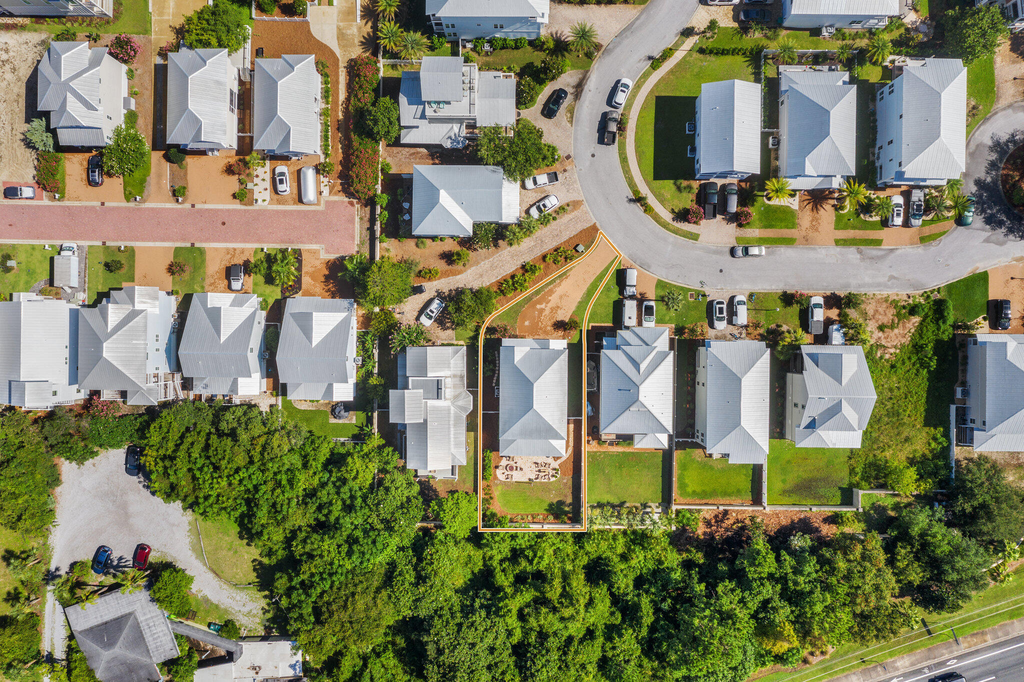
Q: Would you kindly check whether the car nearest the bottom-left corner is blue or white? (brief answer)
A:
blue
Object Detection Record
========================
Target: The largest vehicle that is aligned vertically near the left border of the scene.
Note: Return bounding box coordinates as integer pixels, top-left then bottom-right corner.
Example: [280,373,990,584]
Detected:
[50,234,78,298]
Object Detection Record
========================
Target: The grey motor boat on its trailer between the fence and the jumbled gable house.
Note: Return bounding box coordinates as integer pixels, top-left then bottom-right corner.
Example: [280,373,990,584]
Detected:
[584,356,600,396]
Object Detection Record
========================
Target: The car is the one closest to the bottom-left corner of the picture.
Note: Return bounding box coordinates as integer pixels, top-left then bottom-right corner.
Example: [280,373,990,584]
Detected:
[92,544,114,575]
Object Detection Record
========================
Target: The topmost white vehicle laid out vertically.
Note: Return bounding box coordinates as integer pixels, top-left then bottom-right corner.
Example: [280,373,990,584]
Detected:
[613,76,632,110]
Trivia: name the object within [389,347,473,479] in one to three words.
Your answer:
house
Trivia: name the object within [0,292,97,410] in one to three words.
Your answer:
house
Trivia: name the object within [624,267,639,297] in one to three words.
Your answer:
car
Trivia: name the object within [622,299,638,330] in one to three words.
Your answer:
vehicle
